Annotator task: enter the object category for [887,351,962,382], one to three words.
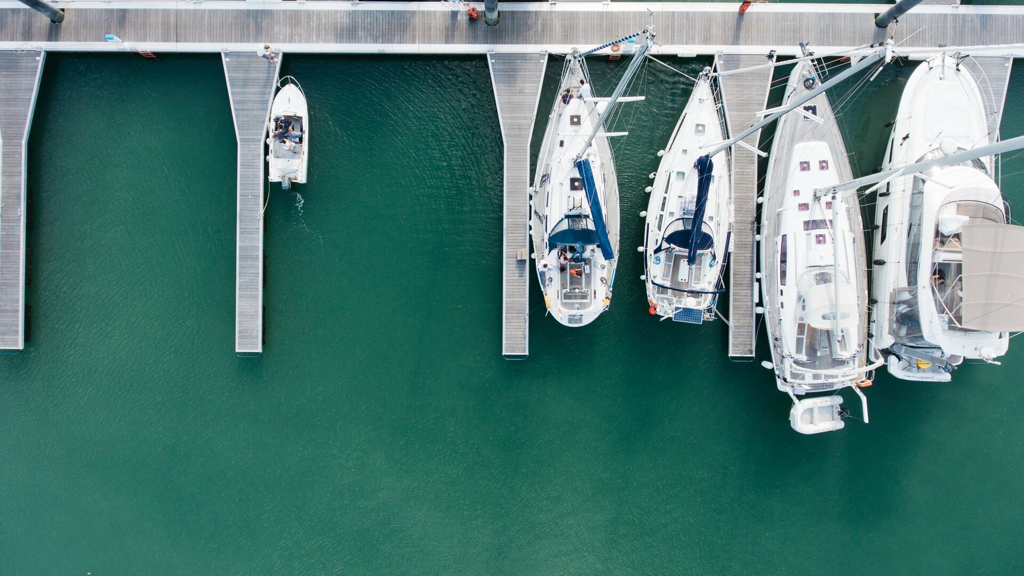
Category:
boat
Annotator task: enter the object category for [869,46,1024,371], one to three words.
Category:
boat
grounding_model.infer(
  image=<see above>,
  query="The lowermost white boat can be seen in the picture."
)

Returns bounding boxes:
[790,398,851,433]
